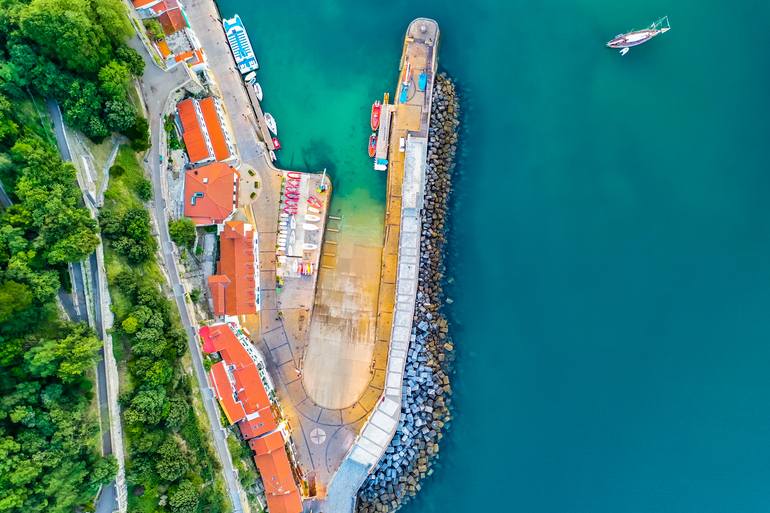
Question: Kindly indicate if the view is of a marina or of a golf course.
marina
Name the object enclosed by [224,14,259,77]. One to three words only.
boat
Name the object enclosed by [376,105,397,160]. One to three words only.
pier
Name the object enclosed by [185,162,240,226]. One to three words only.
house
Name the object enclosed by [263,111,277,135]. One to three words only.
boat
